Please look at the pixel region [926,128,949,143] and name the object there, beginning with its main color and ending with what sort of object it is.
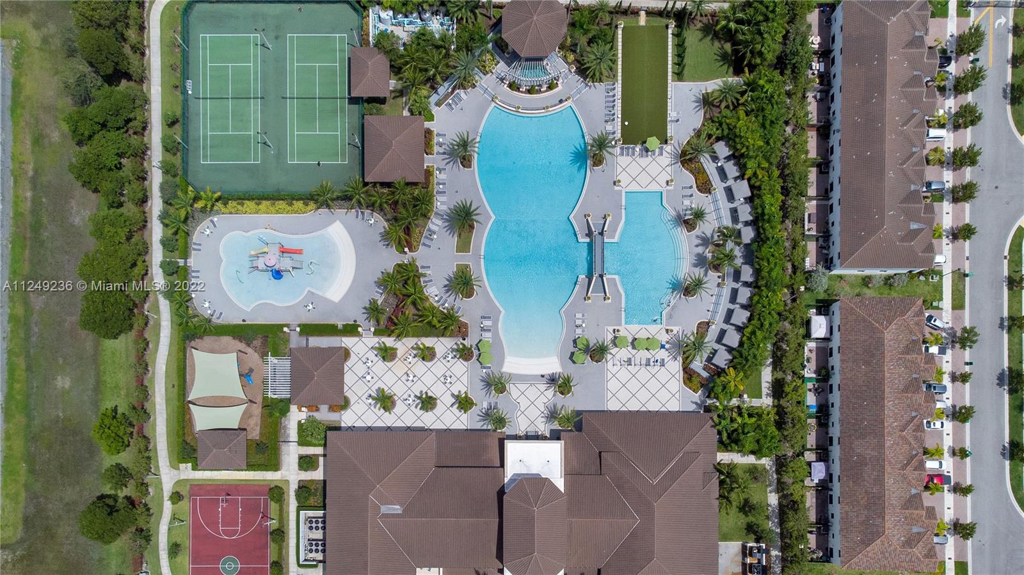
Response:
white car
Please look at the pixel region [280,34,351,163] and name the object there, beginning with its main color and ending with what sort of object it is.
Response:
green tennis court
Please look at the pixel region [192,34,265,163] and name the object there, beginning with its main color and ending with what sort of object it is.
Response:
green tennis court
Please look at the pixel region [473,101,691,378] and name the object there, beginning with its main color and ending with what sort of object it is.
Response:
blue swimming pool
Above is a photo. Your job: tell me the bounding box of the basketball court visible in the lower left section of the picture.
[190,484,269,575]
